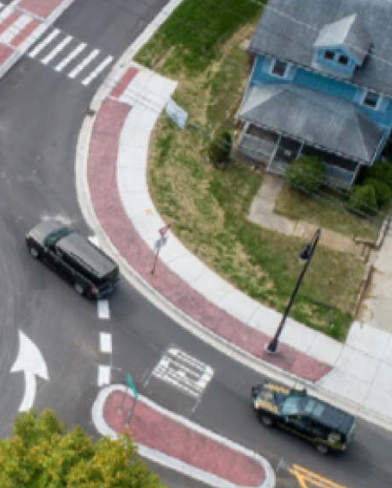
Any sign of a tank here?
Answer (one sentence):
No, no tank can be seen from above.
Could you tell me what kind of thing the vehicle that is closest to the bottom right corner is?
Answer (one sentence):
It looks like the vehicle that is closest to the bottom right corner is a car.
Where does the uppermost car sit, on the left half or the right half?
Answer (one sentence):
The uppermost car is on the left side of the image.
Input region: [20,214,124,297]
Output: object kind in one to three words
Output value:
car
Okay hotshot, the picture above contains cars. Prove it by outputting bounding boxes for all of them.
[20,214,124,297]
[248,376,367,461]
